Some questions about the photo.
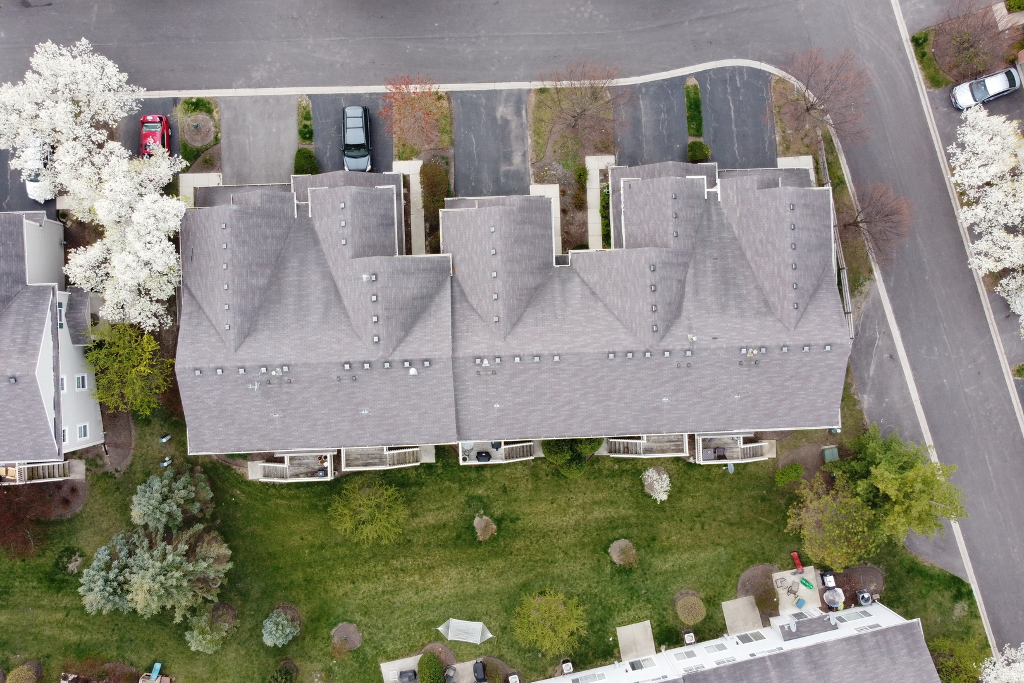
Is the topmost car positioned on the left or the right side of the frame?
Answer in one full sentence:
The topmost car is on the right side of the image.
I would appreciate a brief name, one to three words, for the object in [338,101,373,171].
car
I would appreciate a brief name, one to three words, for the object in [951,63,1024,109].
car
